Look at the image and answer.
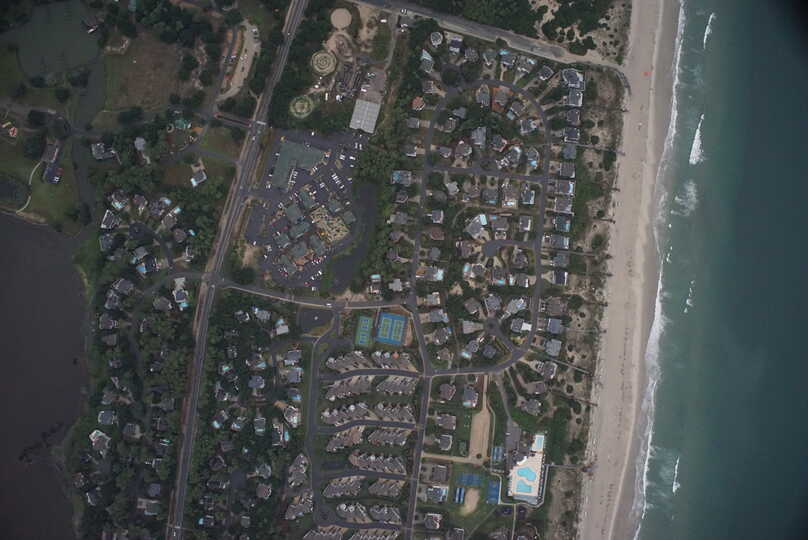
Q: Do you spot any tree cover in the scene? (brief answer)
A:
Yes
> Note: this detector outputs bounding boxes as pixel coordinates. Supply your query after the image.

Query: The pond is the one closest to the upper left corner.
[0,0,107,128]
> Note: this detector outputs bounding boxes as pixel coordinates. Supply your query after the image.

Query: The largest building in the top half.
[273,141,325,191]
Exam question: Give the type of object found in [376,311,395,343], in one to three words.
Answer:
tennis court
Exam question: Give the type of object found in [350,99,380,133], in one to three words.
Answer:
barn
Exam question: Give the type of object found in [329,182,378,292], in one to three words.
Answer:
pond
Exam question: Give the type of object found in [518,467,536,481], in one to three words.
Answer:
swimming pool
